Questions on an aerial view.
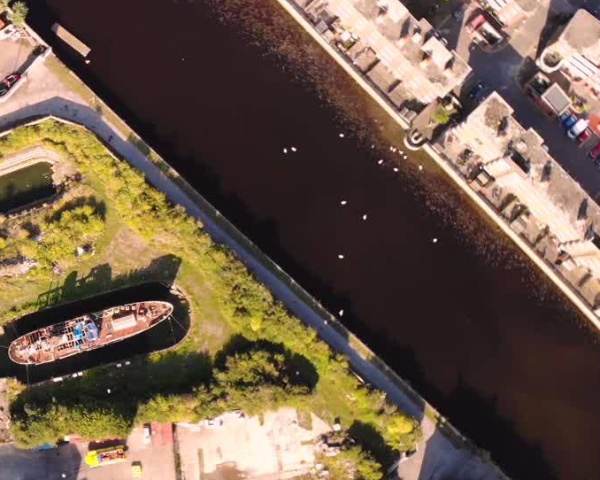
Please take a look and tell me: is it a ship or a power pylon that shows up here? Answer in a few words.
ship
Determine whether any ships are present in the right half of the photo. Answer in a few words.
No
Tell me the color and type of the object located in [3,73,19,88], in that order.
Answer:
red car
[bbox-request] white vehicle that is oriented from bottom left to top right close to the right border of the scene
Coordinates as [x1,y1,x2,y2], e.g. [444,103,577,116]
[570,119,592,137]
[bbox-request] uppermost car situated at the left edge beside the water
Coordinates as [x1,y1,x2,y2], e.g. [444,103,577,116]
[30,43,46,59]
